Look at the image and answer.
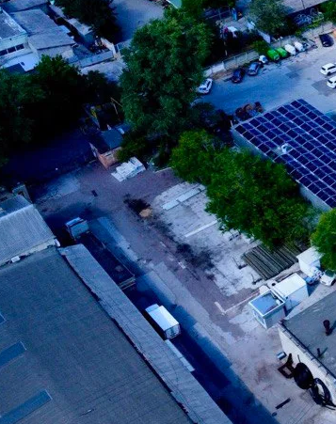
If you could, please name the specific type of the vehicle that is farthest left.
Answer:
truck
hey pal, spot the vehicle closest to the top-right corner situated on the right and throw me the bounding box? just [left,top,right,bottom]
[318,31,335,49]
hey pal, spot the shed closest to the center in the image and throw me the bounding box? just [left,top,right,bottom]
[89,132,135,179]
